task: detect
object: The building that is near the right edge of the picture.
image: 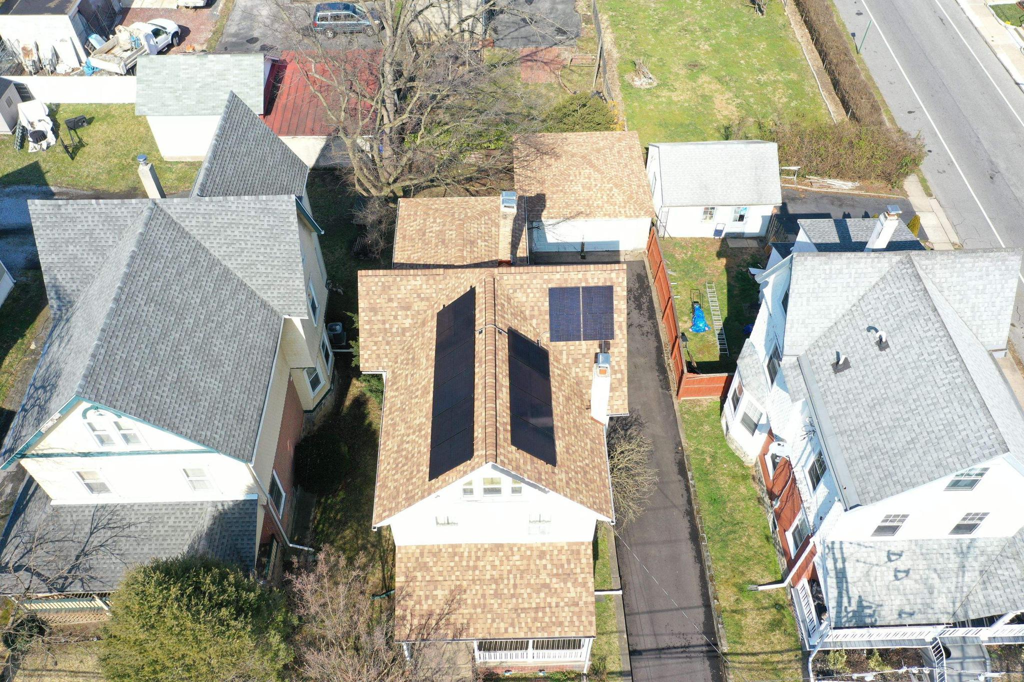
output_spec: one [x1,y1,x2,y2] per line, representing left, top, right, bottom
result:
[711,201,1024,682]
